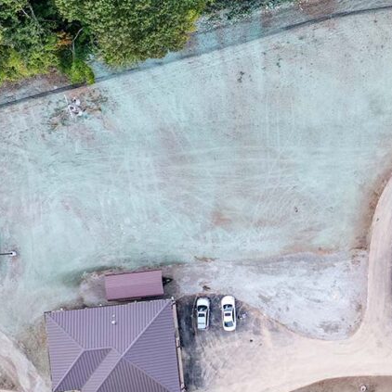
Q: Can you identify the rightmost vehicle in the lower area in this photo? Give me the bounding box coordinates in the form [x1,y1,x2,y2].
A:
[220,297,235,332]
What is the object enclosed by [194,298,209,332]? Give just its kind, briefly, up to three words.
car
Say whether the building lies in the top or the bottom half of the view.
bottom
